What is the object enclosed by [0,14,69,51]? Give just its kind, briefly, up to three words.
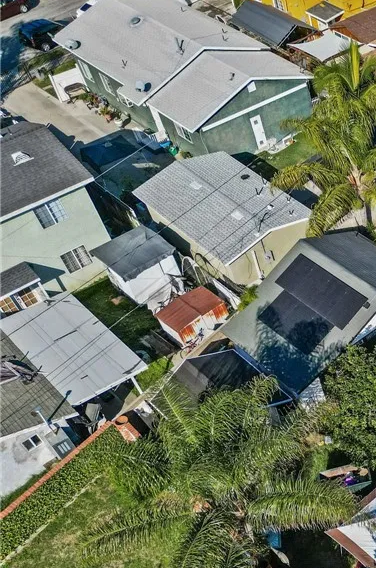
car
